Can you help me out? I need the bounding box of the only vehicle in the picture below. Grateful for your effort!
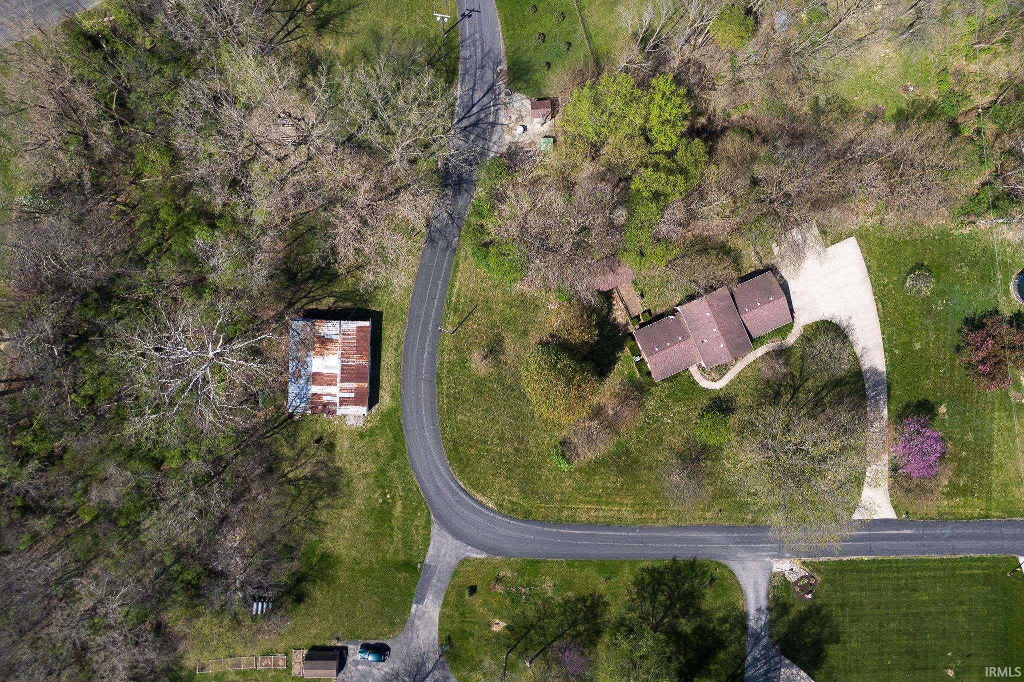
[354,645,390,662]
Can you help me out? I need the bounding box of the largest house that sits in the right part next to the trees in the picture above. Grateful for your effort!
[633,269,793,382]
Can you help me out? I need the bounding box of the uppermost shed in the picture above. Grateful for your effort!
[530,97,551,117]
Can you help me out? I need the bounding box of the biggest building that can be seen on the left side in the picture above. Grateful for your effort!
[287,319,374,417]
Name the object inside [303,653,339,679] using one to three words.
shed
